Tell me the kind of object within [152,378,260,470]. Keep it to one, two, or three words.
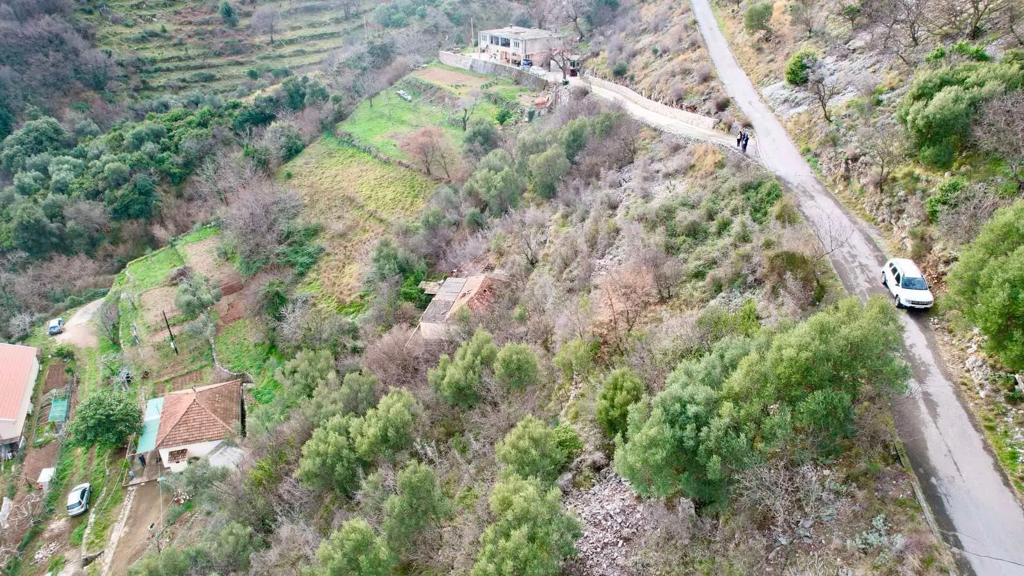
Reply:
house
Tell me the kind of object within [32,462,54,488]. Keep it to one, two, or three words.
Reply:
shed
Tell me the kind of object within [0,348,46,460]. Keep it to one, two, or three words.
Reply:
house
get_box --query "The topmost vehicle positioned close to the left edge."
[46,317,65,338]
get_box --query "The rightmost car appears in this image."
[882,256,935,311]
